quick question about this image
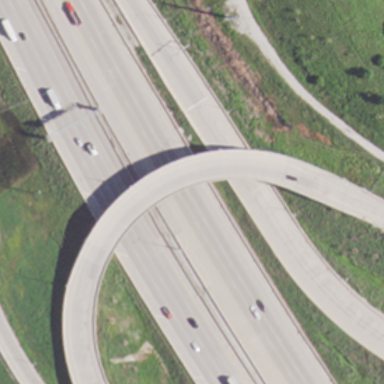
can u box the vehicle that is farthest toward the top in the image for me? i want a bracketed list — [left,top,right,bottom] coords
[66,2,81,25]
